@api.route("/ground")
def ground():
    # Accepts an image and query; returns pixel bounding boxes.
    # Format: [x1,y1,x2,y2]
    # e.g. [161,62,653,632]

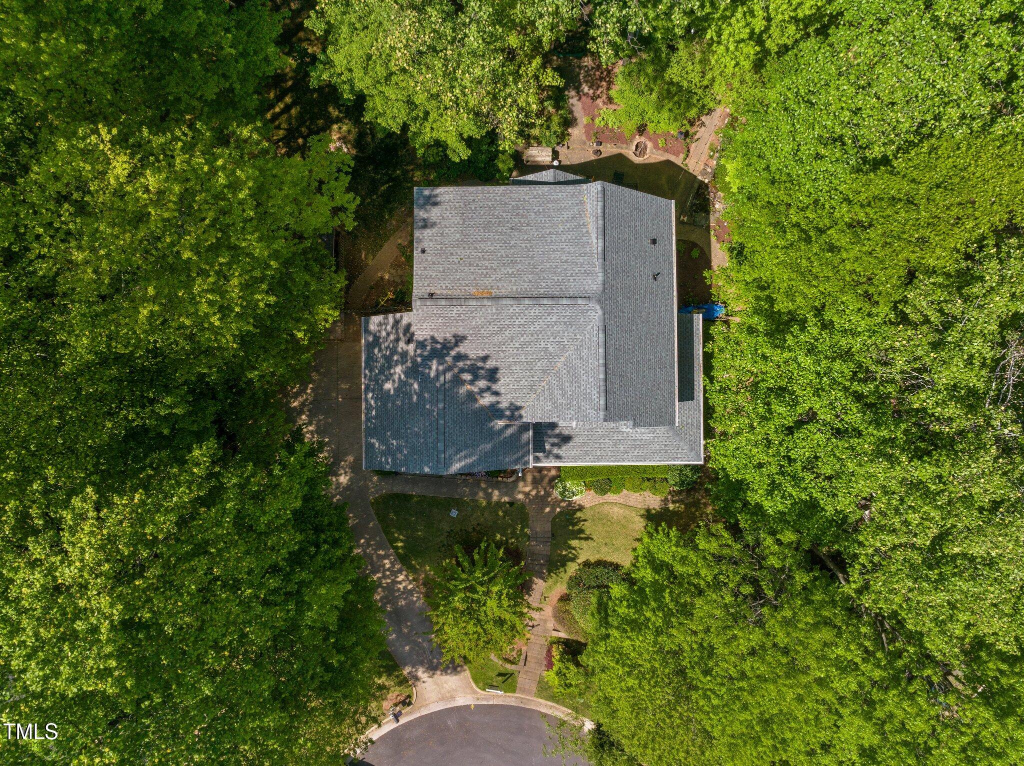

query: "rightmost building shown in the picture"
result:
[359,169,706,476]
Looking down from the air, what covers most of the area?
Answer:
trees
